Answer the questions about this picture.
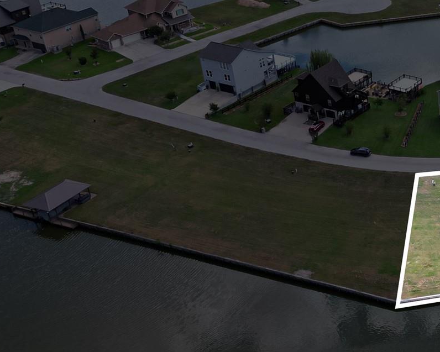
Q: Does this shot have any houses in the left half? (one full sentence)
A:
Yes, a house shows up in the left half.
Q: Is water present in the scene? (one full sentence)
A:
Yes, there is water in the image.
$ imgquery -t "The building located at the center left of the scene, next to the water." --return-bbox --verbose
[4,177,101,238]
